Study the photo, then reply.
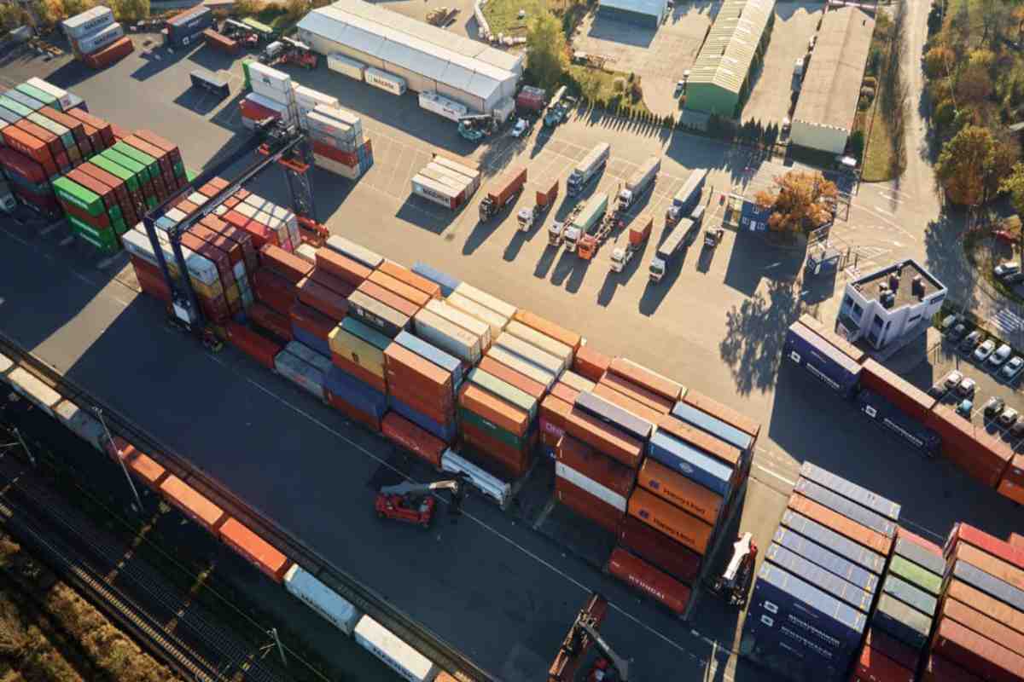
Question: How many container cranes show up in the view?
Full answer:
There is 1 container crane in the image.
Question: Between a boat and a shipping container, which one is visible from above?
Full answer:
There is a shipping container in the scene.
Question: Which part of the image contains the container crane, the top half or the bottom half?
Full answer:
The container crane sits in the top half of the picture.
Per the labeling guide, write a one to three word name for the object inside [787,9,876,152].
building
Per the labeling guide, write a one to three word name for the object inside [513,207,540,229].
truck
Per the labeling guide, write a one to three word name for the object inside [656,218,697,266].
trailer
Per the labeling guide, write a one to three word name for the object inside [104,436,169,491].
shipping container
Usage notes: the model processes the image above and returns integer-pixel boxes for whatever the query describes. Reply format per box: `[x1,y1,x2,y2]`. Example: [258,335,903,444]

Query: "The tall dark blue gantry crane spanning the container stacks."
[133,113,330,348]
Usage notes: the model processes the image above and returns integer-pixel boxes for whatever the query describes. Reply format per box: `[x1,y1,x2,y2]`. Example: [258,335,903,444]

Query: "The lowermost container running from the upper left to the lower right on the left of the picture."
[356,616,438,682]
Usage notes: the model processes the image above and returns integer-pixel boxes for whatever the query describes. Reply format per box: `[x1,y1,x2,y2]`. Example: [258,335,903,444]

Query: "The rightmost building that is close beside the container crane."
[289,0,527,115]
